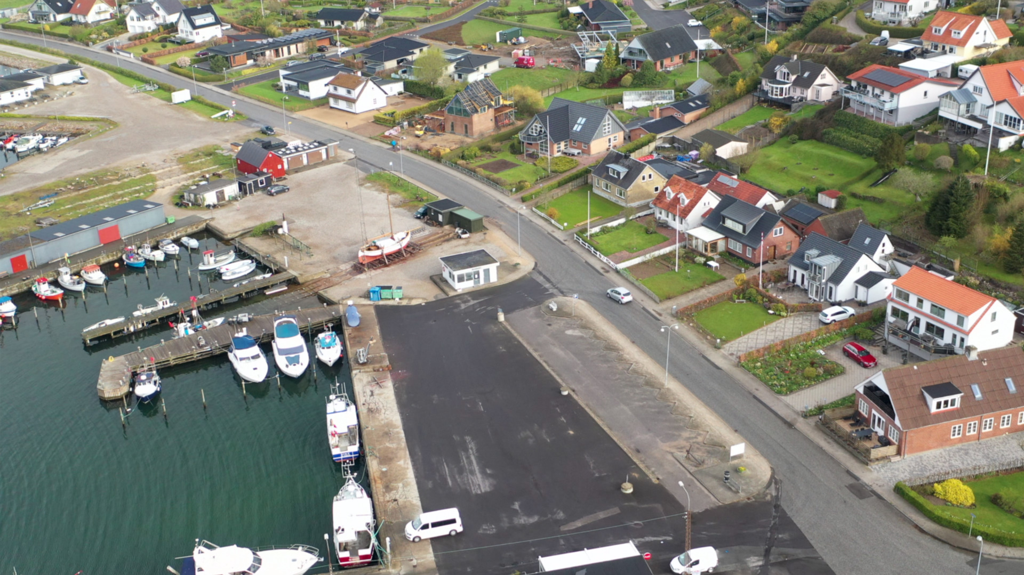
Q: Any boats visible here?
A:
Yes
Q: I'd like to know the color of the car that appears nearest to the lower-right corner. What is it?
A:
red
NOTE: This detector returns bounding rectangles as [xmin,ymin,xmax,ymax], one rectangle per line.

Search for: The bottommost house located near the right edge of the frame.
[842,341,1024,459]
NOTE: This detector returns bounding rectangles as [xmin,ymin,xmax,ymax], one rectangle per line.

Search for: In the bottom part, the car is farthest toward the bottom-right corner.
[841,342,881,368]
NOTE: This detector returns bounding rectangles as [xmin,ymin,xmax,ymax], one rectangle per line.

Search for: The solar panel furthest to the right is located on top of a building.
[860,67,912,86]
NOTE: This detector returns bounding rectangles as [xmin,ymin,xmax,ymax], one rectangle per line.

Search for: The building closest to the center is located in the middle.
[438,250,498,287]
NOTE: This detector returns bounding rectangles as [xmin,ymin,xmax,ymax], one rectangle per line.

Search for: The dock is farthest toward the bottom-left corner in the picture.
[96,355,133,405]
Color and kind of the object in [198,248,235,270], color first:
white boat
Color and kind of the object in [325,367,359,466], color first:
white ship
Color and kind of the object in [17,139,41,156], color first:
white boat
